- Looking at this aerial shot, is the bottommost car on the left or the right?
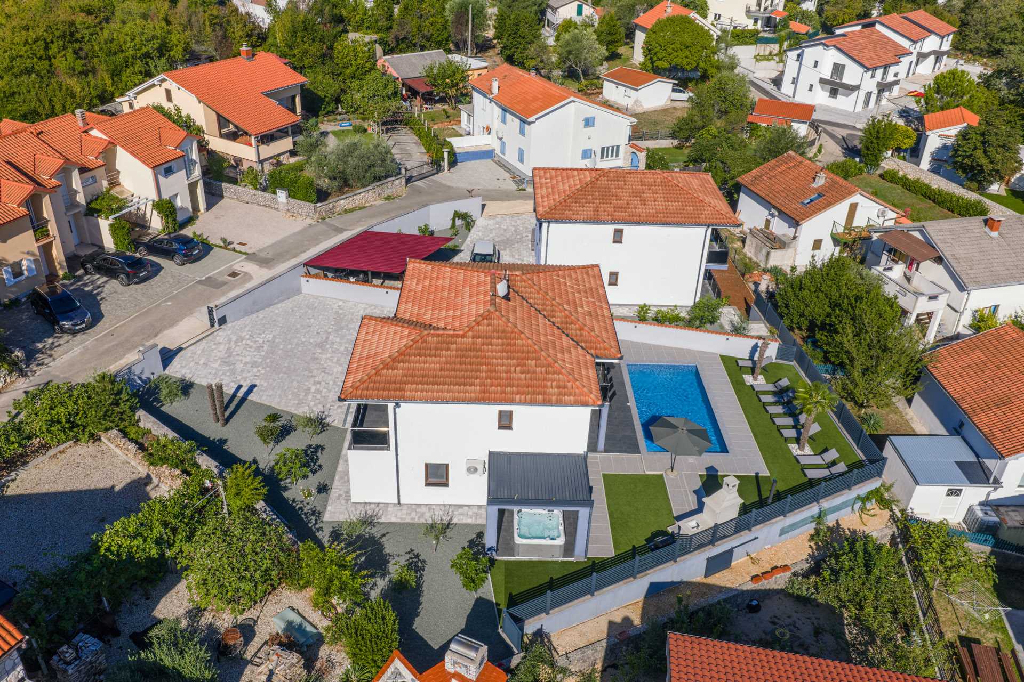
left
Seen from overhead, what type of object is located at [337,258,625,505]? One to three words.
house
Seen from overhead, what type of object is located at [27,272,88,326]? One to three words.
car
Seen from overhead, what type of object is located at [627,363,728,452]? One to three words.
swimming pool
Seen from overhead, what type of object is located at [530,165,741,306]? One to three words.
house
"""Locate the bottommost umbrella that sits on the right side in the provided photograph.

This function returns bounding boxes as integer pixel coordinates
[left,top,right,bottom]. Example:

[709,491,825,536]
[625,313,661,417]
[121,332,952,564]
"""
[650,420,711,479]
